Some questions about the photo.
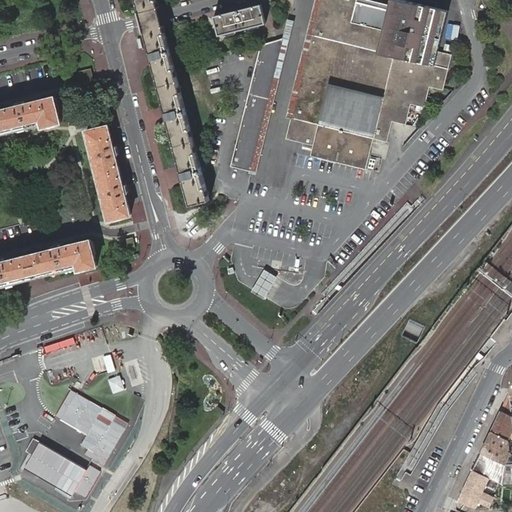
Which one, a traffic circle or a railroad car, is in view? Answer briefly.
traffic circle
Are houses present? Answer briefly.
Yes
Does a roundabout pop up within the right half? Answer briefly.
No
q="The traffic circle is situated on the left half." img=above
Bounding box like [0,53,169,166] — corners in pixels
[137,248,214,325]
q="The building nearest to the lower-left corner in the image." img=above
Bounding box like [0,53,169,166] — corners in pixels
[21,437,102,498]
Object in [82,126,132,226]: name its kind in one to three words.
building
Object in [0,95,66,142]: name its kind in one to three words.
building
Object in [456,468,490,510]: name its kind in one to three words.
house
